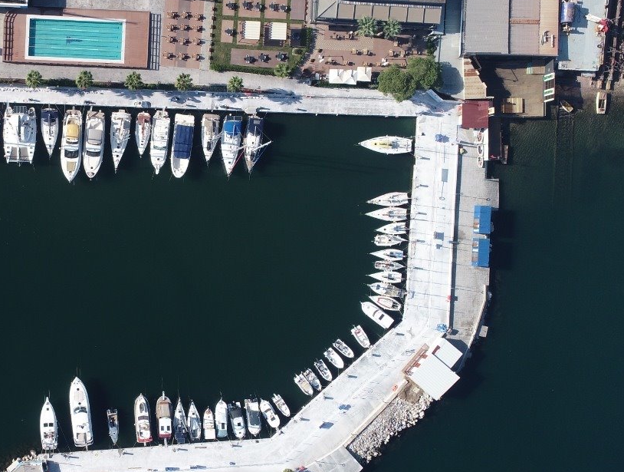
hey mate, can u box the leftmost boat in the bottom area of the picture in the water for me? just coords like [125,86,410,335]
[37,394,61,460]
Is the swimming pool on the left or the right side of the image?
left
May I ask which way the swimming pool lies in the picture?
from side to side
